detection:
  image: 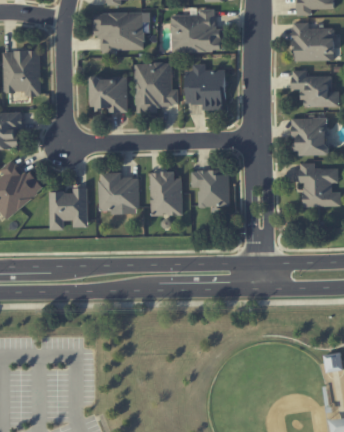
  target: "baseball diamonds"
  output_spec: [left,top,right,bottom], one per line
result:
[208,342,330,432]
